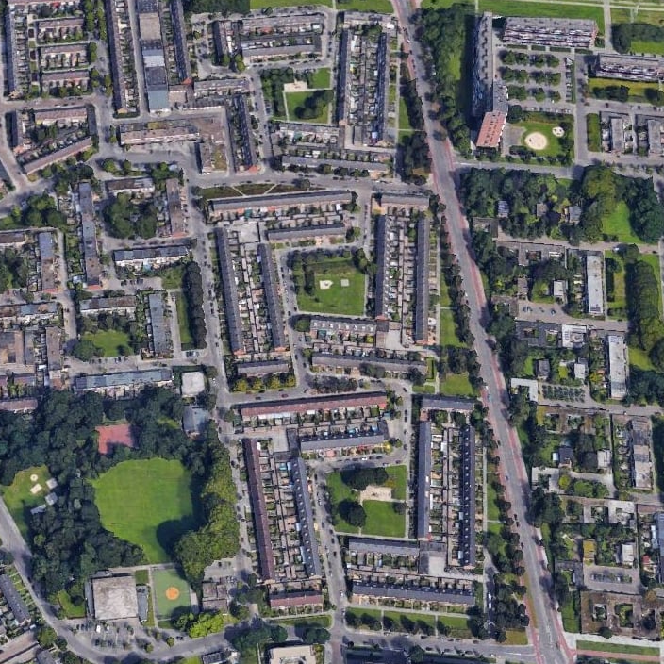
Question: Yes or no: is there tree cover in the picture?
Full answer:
Yes, tree cover can be seen from above here.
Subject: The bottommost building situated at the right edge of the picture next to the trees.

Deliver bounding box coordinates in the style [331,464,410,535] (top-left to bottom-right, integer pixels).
[579,591,664,640]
